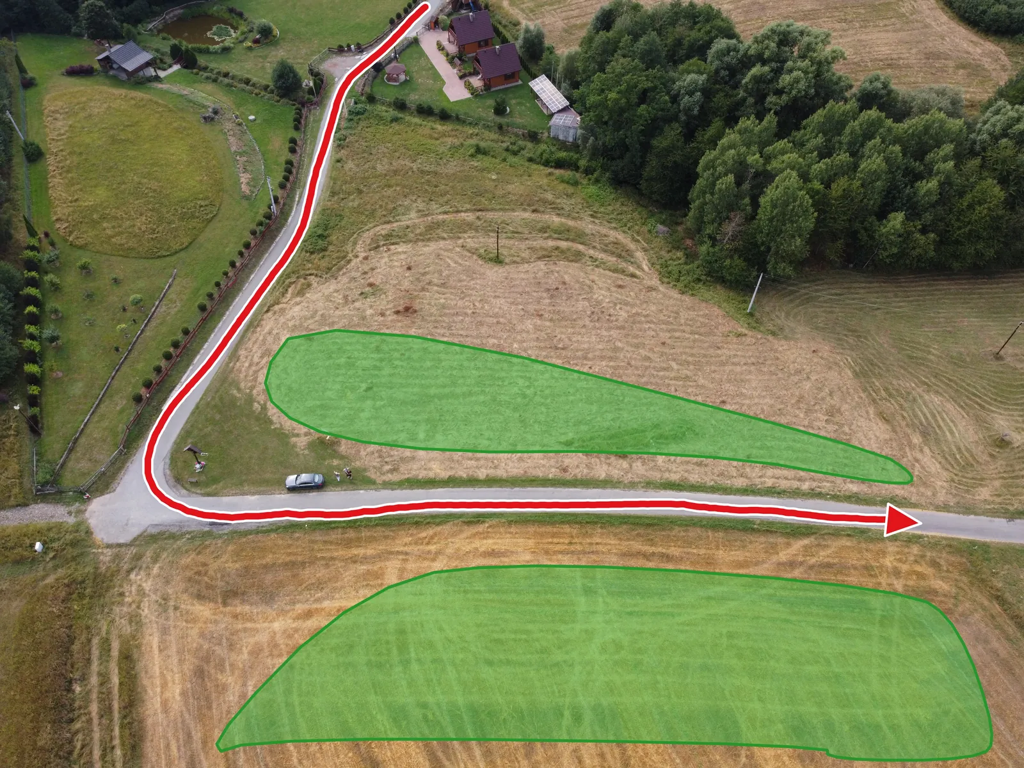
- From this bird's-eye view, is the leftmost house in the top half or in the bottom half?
top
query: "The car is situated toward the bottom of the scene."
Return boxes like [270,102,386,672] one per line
[284,473,325,492]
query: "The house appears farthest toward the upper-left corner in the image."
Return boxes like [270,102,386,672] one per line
[102,36,169,80]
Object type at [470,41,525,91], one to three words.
house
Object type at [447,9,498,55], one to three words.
house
